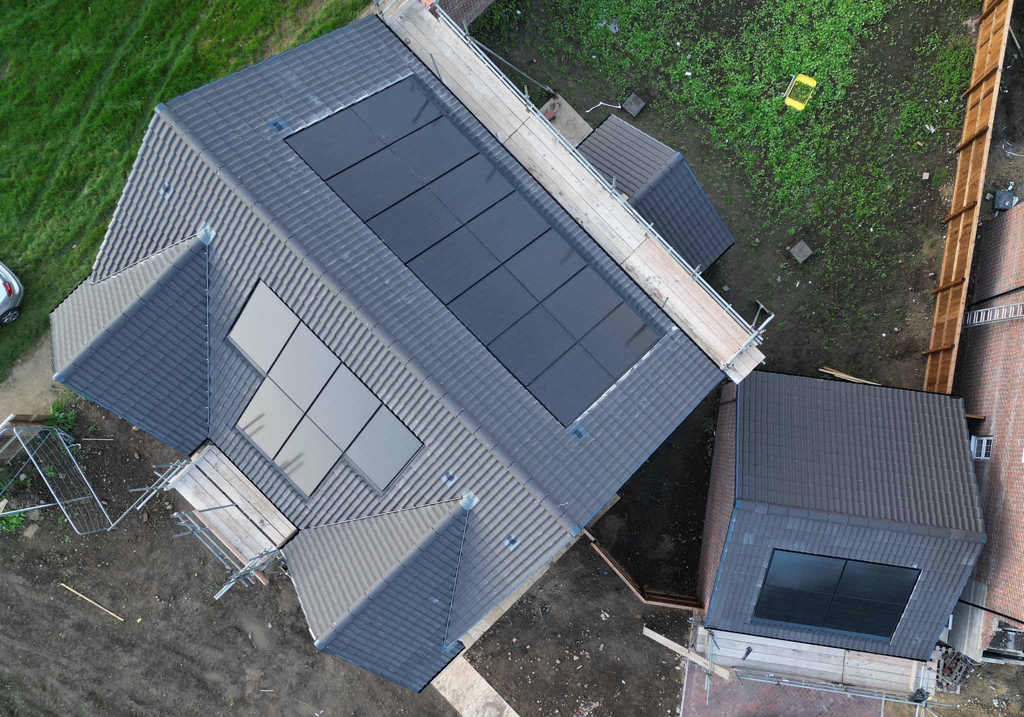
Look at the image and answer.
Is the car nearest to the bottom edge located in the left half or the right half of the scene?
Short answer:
left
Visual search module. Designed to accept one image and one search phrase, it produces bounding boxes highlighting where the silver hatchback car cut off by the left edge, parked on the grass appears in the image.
[0,258,29,325]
